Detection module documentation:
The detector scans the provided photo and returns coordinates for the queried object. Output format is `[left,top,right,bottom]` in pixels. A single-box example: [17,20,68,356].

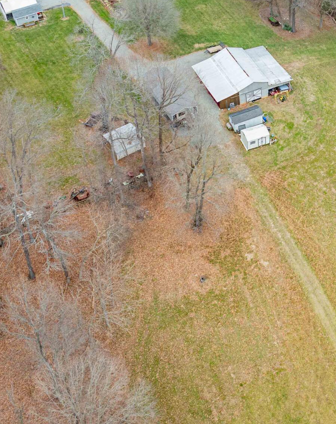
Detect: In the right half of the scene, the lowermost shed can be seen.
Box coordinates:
[240,125,269,151]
